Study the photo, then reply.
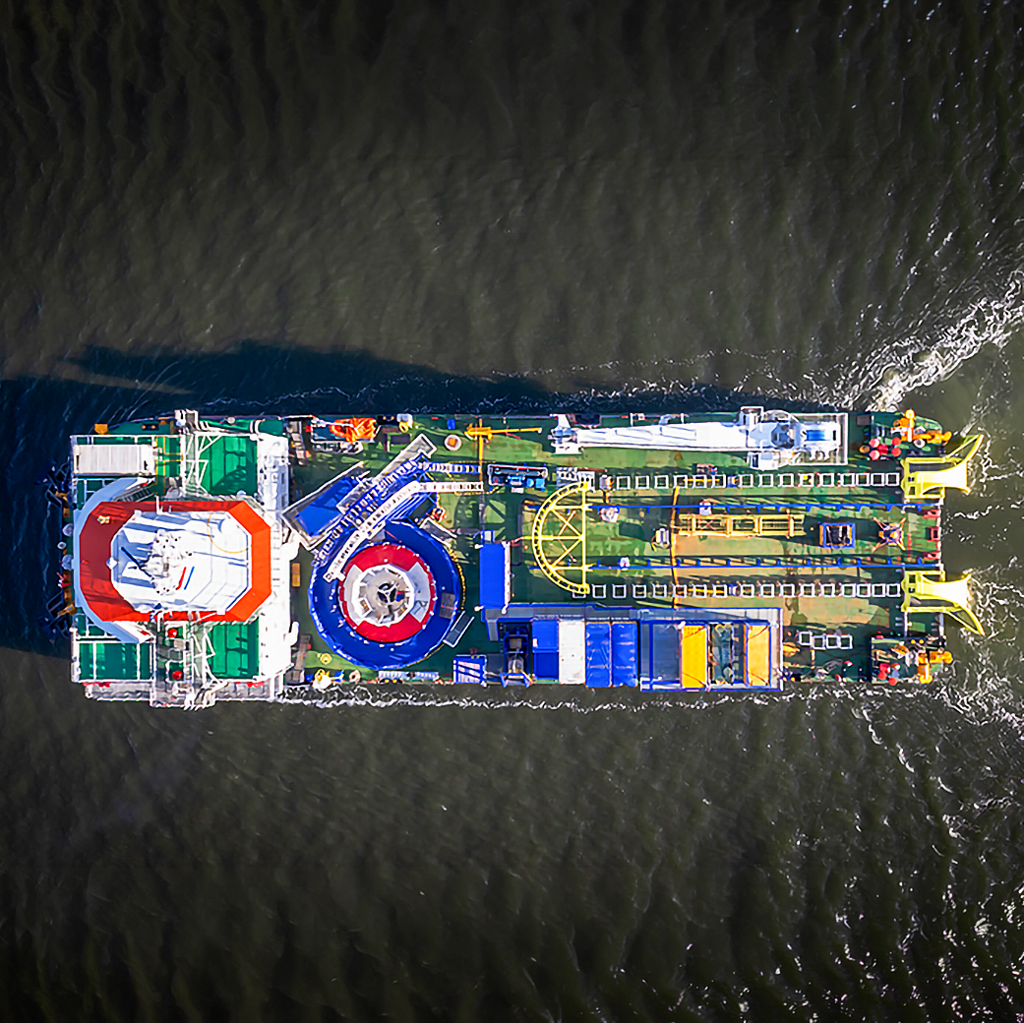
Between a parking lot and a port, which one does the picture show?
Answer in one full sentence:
It's a port.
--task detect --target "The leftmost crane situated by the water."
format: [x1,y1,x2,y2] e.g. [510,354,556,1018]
[465,418,542,531]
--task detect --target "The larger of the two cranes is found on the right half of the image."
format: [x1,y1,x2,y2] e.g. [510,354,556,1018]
[577,405,840,471]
